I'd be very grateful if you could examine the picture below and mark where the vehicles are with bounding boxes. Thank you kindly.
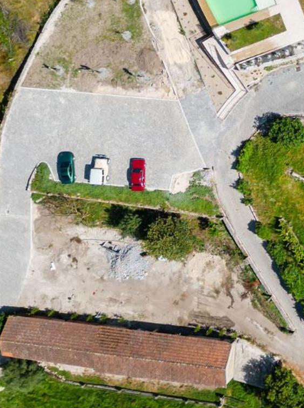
[53,152,73,186]
[125,158,144,193]
[86,155,108,187]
